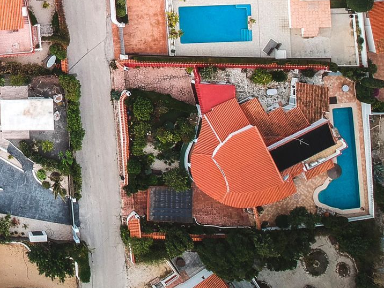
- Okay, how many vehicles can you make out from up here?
0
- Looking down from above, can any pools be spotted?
Yes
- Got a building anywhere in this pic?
Yes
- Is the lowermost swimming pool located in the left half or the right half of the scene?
right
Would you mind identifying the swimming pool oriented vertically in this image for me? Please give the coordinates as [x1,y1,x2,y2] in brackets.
[314,103,367,215]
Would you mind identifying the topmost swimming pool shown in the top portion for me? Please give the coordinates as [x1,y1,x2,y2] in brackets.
[177,2,255,46]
